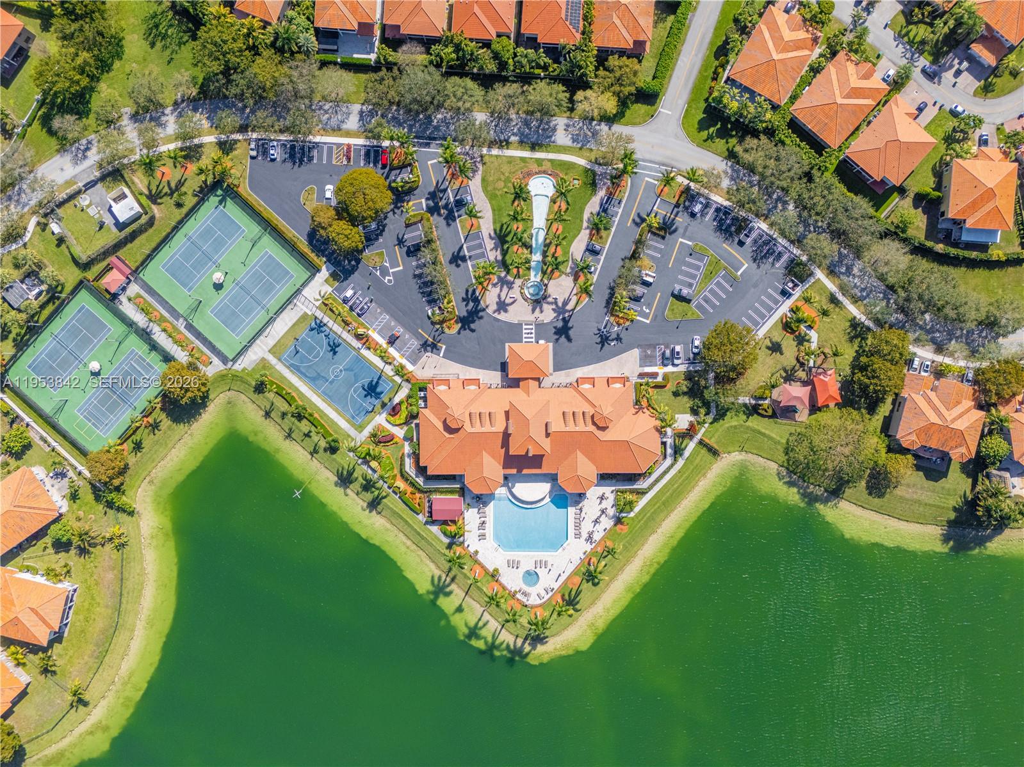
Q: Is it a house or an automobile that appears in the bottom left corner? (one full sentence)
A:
There is a house in the bottom left corner.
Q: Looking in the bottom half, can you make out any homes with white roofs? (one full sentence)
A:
No, I can find no home with a white roof in the bottom half.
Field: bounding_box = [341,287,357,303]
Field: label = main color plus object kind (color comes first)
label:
white car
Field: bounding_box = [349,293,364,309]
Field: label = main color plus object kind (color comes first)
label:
gray car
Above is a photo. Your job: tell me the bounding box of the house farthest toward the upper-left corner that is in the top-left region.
[0,7,41,77]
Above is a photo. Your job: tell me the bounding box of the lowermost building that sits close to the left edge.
[0,657,31,712]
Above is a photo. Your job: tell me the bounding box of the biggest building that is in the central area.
[419,343,660,494]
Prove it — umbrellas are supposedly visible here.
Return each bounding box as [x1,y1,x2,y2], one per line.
[90,360,105,372]
[213,272,227,284]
